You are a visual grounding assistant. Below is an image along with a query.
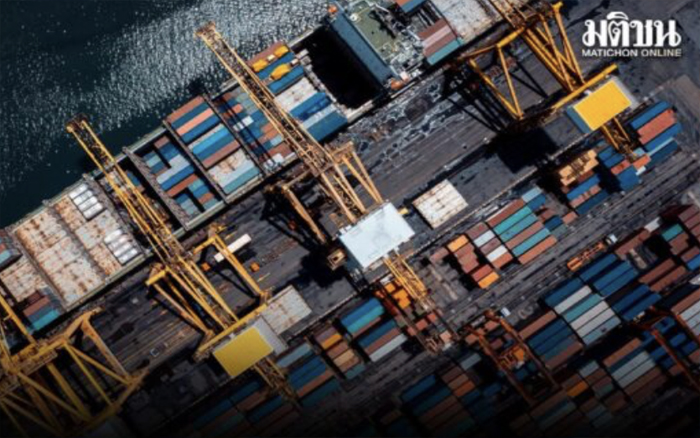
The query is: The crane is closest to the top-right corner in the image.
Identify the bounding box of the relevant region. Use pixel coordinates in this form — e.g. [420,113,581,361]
[457,0,646,168]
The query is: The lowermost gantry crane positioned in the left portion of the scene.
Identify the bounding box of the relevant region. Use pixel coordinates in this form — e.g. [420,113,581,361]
[0,284,145,438]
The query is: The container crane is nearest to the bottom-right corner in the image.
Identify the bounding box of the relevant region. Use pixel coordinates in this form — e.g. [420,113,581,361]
[625,306,700,398]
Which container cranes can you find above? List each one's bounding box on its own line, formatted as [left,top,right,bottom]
[0,284,145,438]
[625,306,700,398]
[55,112,299,404]
[448,300,555,405]
[457,0,646,168]
[367,267,457,354]
[200,21,435,311]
